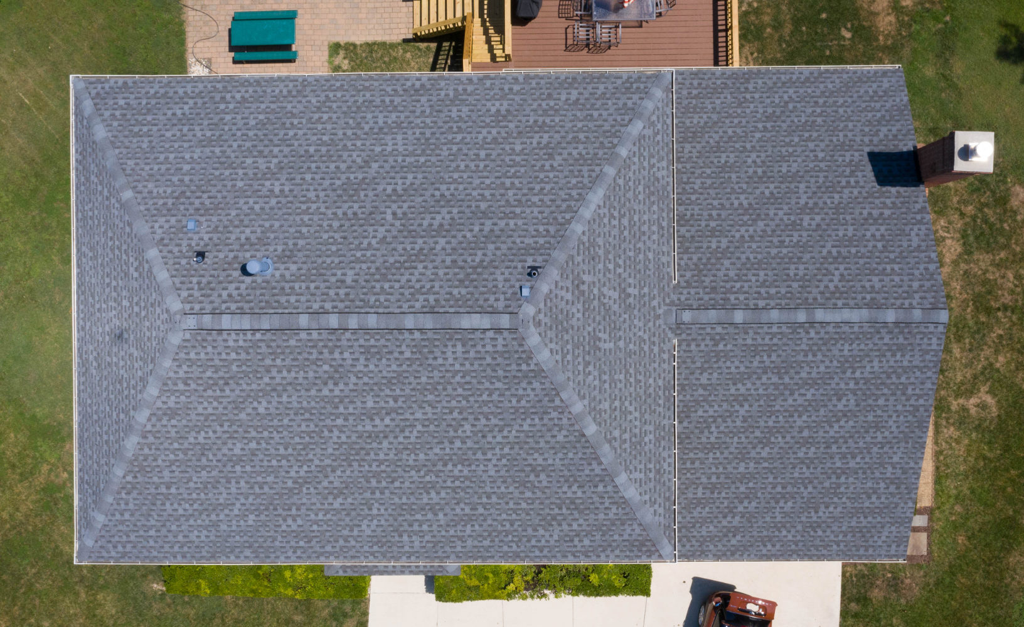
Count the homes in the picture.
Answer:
one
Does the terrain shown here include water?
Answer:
No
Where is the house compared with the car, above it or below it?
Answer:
above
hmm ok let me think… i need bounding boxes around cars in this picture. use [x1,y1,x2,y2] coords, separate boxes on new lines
[694,585,778,627]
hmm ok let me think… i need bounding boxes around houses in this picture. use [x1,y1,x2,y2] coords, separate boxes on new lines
[71,67,993,577]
